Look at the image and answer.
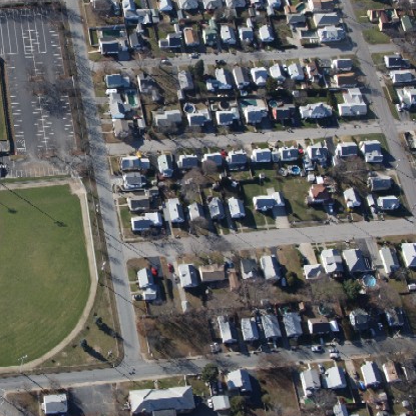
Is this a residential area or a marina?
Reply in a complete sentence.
The area seen from above is a residential area.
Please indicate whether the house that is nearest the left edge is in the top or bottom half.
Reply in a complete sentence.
It is in the bottom half that the house that is nearest the left edge appears.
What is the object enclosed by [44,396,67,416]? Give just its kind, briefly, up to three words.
house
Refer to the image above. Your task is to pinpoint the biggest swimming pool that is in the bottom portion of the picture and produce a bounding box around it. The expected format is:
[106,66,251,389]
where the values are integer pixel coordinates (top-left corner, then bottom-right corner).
[361,274,376,288]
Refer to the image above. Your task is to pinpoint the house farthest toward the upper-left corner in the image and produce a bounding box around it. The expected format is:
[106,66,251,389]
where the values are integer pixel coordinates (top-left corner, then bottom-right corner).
[91,0,120,17]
